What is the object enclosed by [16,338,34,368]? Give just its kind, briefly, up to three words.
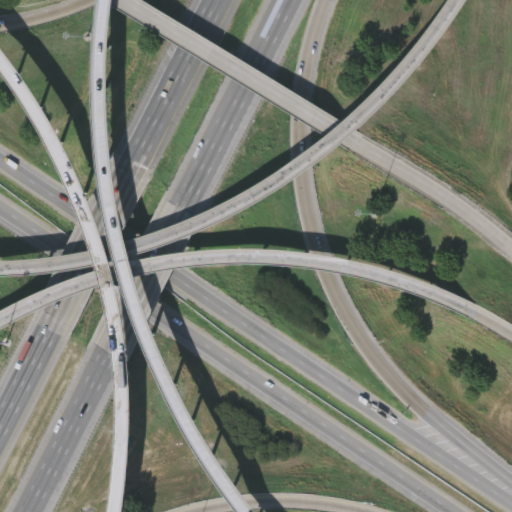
vehicle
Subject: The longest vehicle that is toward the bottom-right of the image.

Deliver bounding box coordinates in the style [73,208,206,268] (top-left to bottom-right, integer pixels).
[370,404,388,418]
